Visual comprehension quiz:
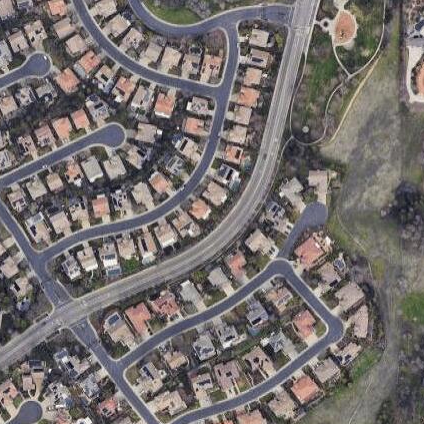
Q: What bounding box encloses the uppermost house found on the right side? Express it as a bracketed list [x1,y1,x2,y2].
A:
[248,28,272,50]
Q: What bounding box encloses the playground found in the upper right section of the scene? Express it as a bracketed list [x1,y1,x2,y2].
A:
[332,6,357,47]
